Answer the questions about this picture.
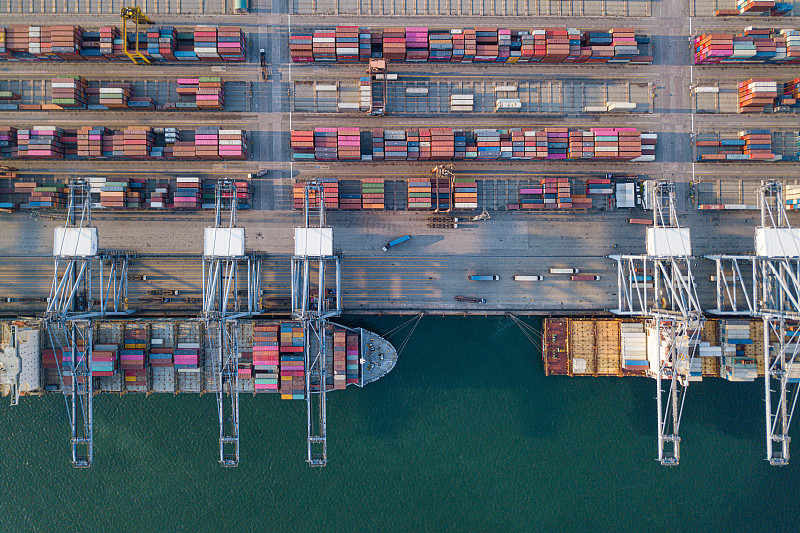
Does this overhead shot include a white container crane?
Yes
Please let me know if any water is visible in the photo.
Yes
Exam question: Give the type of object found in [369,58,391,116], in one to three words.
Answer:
crane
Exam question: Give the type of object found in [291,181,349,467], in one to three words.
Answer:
container crane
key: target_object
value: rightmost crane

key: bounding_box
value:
[700,181,800,467]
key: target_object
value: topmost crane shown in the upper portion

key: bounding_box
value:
[120,5,155,66]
